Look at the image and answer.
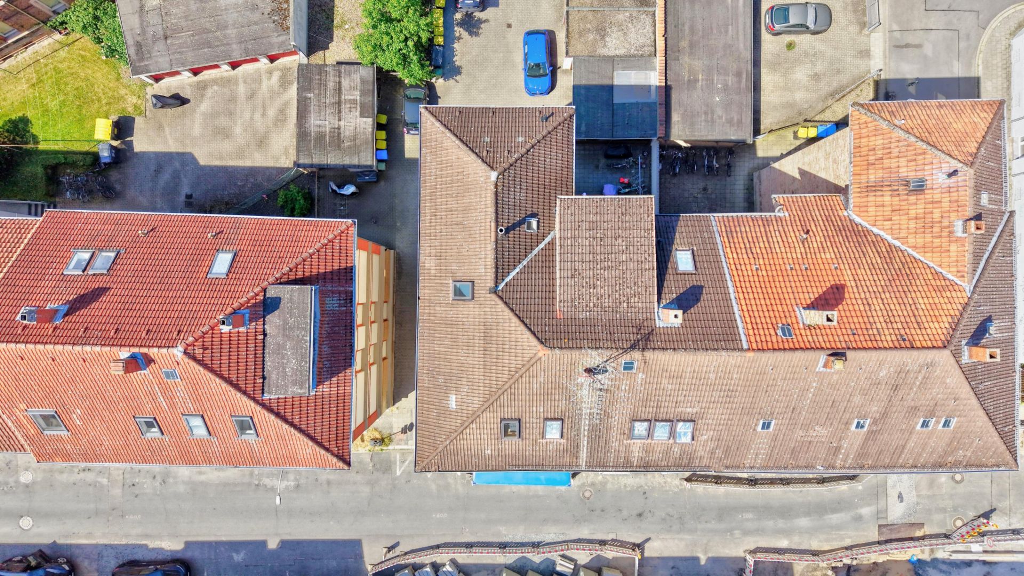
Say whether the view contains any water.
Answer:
No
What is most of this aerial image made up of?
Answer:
buildings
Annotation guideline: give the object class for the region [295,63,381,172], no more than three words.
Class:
shed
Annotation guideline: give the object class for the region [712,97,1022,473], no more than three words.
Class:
house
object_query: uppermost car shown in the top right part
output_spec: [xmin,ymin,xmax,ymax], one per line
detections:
[768,0,835,35]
